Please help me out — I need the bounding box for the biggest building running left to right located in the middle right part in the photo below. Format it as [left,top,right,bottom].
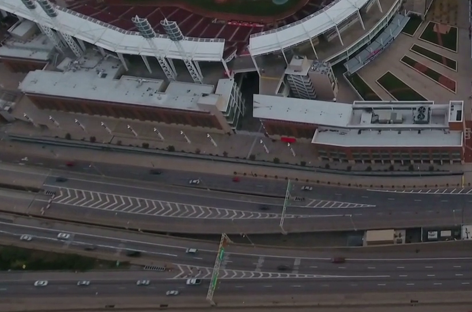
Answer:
[253,95,464,163]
